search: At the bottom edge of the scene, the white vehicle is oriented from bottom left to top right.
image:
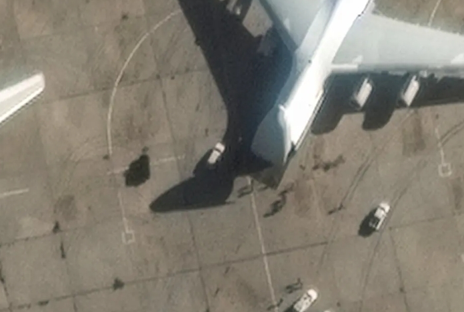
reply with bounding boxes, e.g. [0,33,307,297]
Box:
[295,288,320,312]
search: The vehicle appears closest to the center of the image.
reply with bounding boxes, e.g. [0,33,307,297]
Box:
[207,138,226,168]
